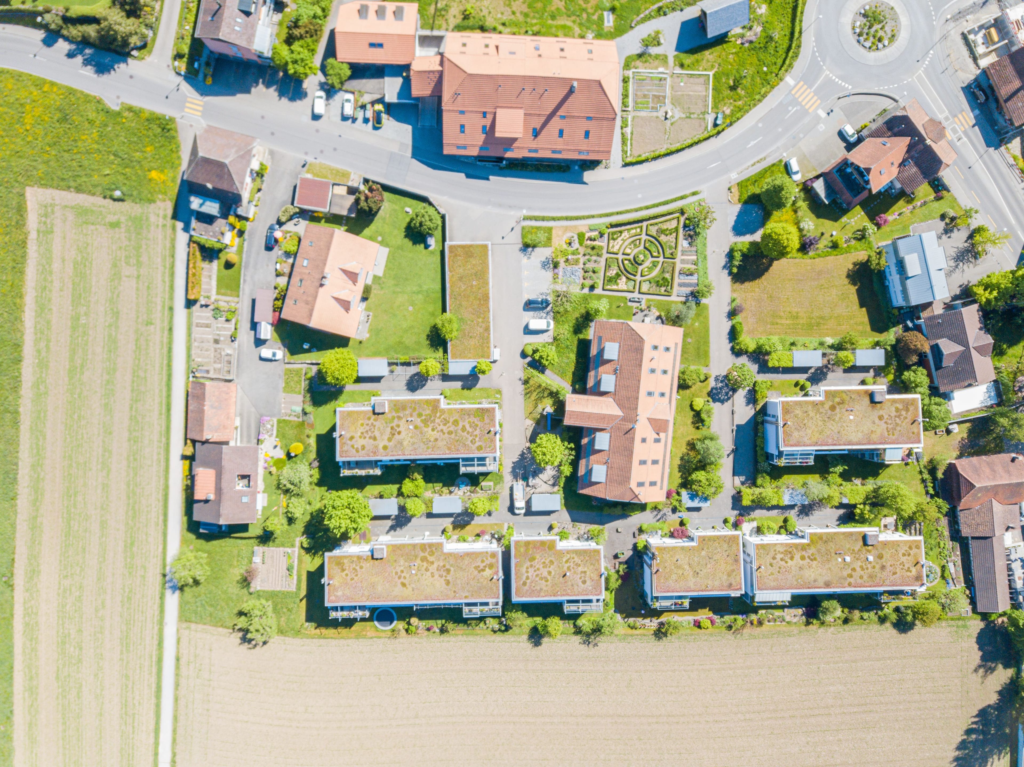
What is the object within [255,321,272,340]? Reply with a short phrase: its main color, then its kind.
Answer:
white camper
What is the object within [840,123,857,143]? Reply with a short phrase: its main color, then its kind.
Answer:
white car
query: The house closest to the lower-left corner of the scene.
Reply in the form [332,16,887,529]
[193,442,265,533]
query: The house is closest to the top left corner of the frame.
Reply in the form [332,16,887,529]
[195,0,279,68]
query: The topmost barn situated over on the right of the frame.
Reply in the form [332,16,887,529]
[695,0,749,42]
